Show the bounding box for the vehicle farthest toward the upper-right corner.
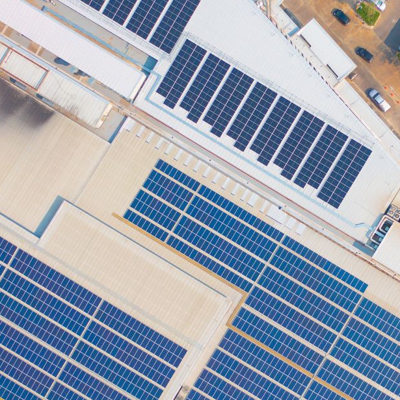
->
[363,0,389,14]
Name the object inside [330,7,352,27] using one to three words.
car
